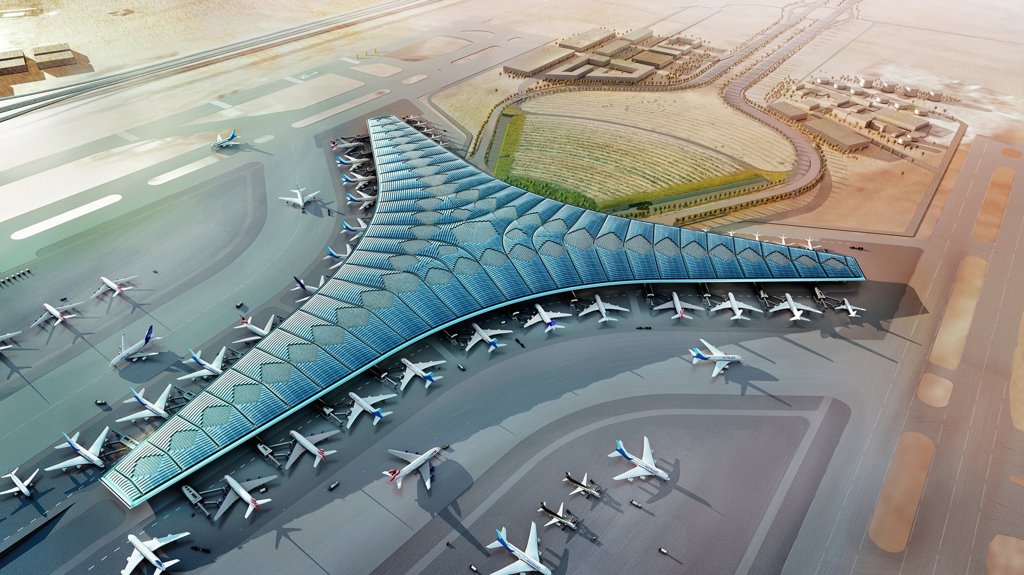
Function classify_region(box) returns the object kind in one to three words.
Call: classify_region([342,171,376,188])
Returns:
airplane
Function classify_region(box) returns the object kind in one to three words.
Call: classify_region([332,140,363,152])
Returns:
airplane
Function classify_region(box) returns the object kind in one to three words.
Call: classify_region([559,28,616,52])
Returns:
building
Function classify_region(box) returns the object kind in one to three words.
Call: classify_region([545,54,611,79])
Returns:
building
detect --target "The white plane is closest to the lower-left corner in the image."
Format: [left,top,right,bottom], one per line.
[0,468,36,496]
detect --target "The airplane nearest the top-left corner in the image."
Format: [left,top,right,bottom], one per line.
[209,131,240,147]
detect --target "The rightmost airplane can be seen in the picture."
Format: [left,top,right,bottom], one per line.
[835,298,866,318]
